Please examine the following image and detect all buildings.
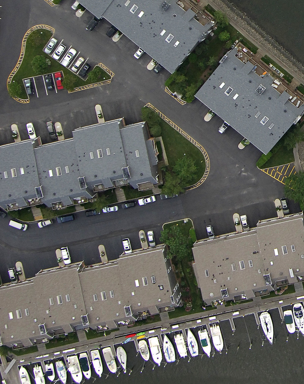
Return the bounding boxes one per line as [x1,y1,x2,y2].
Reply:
[77,0,215,74]
[194,46,304,154]
[0,245,178,351]
[192,216,304,308]
[0,121,162,212]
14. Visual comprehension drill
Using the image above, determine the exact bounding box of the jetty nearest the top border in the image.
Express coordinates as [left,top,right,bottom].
[133,297,304,341]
